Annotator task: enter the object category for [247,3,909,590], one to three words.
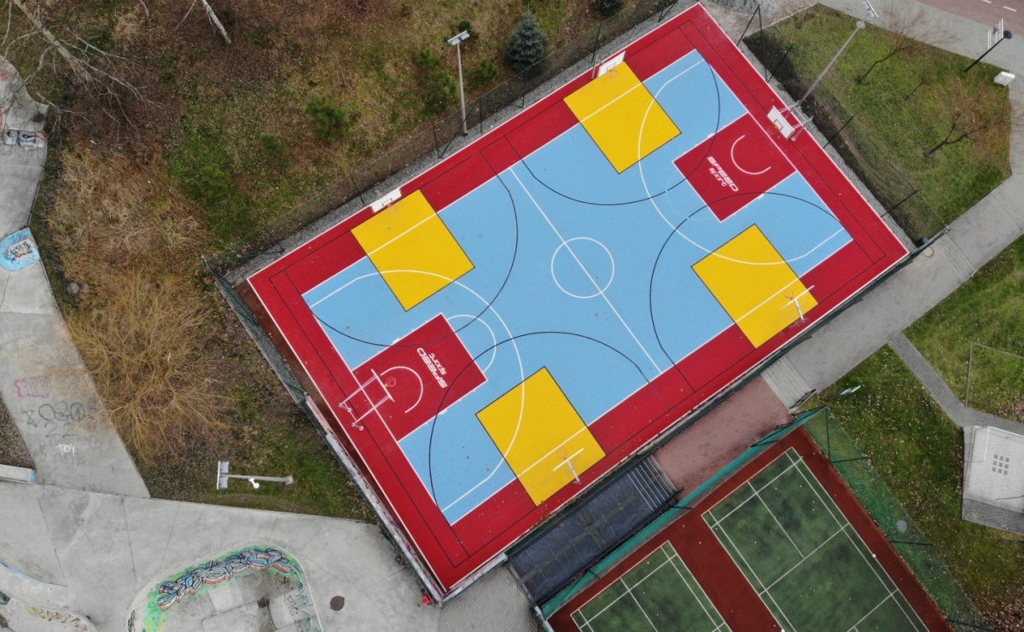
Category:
basketball court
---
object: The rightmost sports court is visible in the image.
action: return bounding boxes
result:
[701,447,933,632]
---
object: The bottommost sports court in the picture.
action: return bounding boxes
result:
[570,541,733,632]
